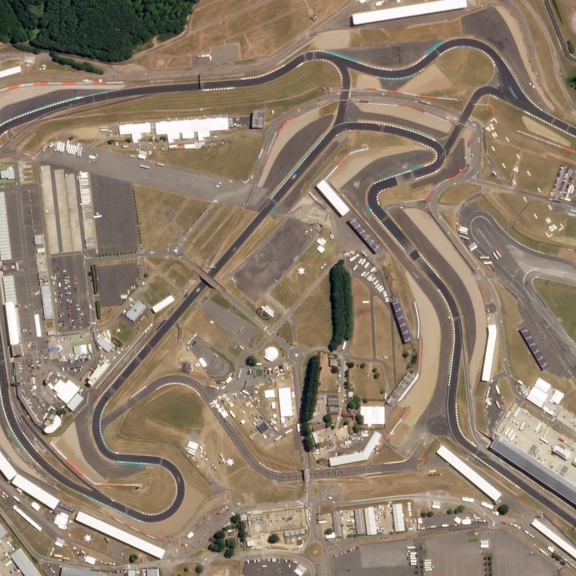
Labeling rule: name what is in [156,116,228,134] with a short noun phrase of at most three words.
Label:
tent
